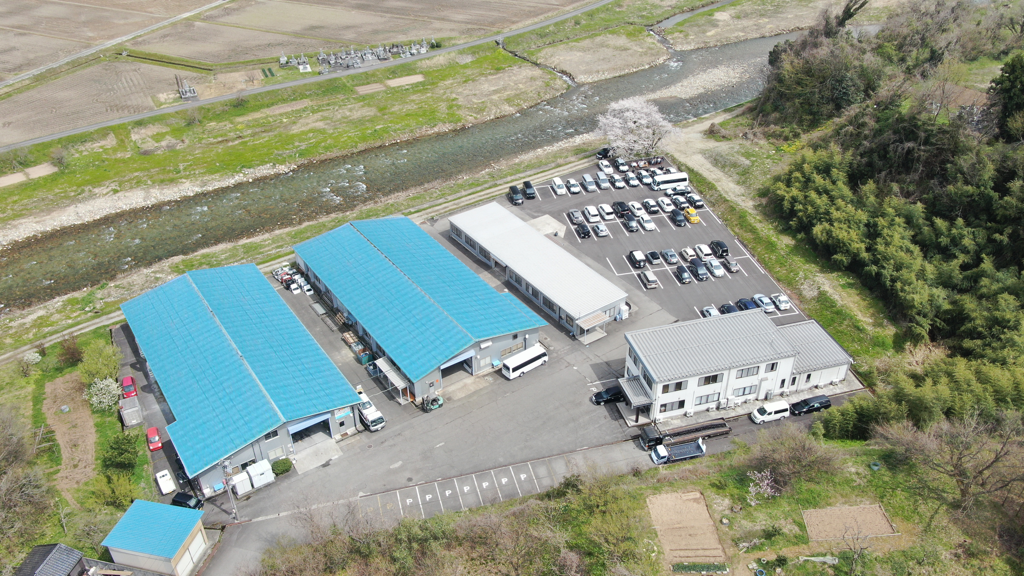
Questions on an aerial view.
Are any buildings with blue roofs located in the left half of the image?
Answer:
Yes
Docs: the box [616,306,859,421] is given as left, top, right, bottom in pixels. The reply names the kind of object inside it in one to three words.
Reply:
building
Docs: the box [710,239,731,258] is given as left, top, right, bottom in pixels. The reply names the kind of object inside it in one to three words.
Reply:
vehicle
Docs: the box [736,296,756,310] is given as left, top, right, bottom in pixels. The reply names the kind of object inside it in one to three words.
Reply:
car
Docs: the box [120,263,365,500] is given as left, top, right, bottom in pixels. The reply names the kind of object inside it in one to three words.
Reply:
building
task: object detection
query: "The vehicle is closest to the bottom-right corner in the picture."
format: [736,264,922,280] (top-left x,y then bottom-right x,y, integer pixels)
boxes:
[789,395,834,416]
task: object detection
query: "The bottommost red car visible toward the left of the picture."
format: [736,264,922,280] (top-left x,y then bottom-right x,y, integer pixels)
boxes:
[145,426,164,454]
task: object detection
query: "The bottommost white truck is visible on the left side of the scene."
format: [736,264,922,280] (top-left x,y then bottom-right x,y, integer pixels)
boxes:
[153,467,177,498]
